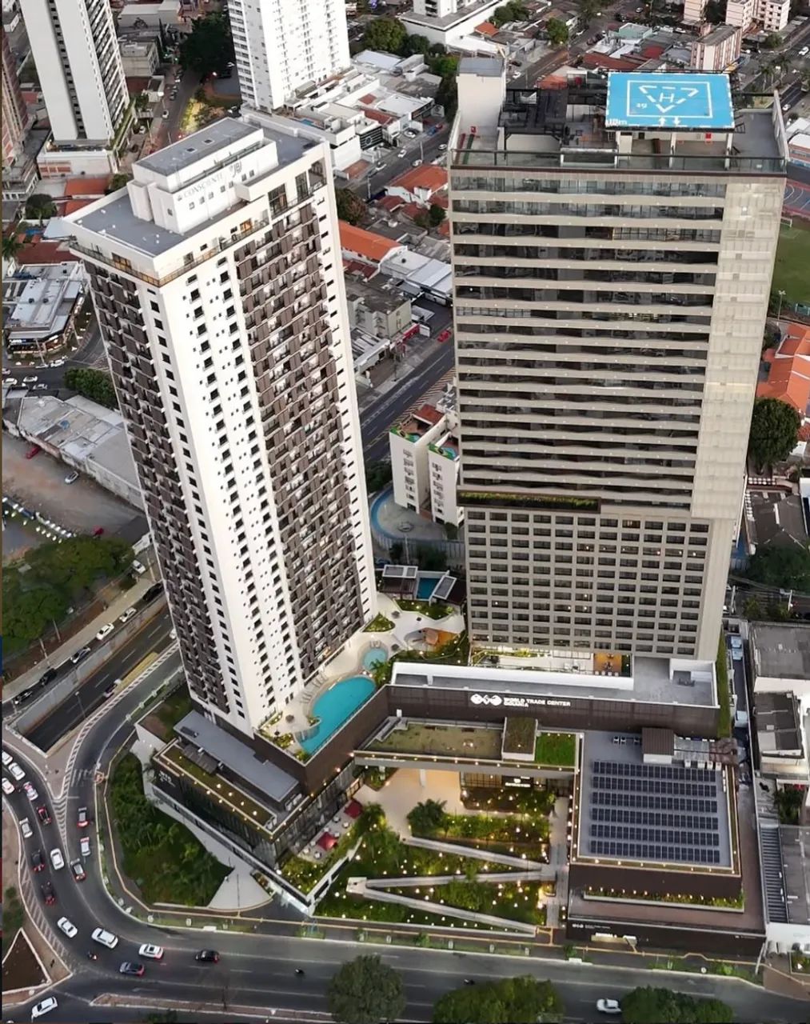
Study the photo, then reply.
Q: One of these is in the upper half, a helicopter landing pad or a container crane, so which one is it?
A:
helicopter landing pad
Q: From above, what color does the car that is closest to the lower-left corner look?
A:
white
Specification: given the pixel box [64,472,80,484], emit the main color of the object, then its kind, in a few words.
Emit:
gray vehicle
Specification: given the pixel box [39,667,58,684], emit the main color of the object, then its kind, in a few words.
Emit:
black car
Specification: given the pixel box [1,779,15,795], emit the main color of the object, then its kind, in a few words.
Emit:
white car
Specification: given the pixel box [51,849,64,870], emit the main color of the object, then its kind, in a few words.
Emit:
white vehicle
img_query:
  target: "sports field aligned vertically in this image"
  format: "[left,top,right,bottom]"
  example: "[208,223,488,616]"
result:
[768,213,810,310]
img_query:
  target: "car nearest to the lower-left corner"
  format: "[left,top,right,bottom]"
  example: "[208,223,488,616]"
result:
[32,995,58,1017]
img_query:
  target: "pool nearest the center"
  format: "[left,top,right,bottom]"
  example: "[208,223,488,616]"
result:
[415,576,442,602]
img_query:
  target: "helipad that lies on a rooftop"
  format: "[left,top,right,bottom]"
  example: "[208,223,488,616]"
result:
[603,74,736,130]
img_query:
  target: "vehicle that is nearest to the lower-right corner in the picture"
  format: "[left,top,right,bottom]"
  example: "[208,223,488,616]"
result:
[794,940,806,957]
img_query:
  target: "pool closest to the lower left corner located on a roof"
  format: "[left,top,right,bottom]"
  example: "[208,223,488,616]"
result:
[297,674,377,756]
